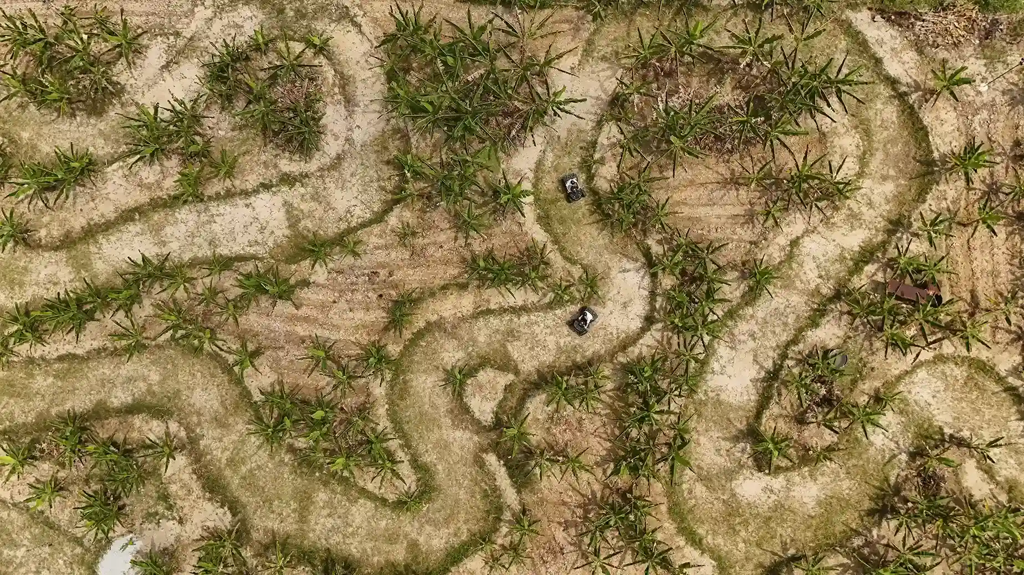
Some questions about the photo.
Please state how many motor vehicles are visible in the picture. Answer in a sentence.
The picture shows 2 motor vehicles.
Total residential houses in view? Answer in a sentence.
There are no residential houses in the image.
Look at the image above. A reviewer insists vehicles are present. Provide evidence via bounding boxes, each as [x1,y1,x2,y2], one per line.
[571,307,597,337]
[561,172,584,203]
